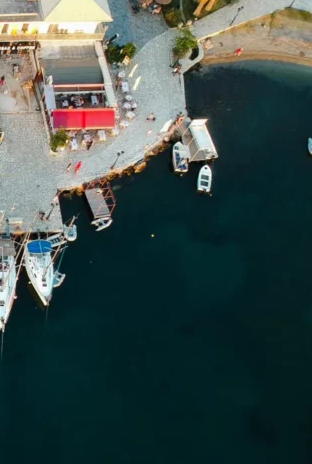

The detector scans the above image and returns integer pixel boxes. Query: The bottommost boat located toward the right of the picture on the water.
[198,167,211,194]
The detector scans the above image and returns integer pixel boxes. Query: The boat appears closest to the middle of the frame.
[90,218,113,232]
